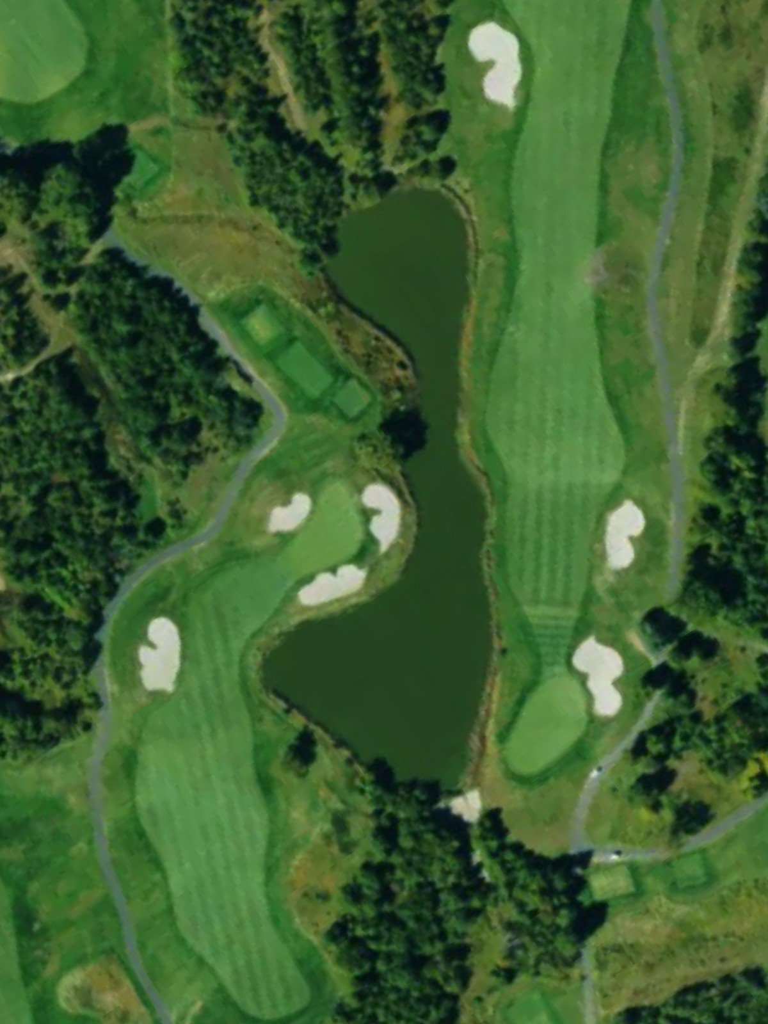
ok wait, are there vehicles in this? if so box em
[591,769,598,778]
[610,854,619,859]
